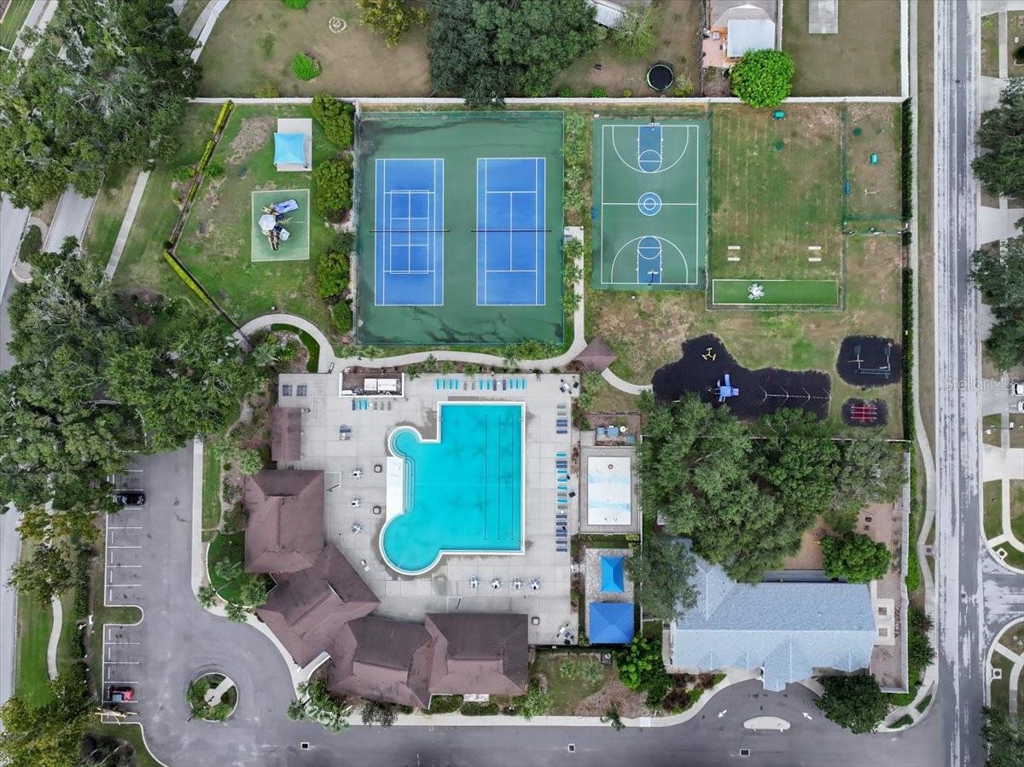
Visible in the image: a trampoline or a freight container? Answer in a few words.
trampoline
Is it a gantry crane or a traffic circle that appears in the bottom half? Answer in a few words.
traffic circle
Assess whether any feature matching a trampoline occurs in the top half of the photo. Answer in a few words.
Yes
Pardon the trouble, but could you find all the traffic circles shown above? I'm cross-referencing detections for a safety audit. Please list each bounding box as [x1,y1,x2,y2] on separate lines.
[187,671,239,723]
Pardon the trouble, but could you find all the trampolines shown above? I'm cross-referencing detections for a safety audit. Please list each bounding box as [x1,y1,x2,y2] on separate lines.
[645,60,677,91]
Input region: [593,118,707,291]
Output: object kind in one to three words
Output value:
basketball court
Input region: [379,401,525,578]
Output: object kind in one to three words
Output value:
swimming pool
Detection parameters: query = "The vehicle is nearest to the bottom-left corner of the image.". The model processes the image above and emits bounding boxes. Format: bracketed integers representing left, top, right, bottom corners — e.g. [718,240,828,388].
[108,686,135,701]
